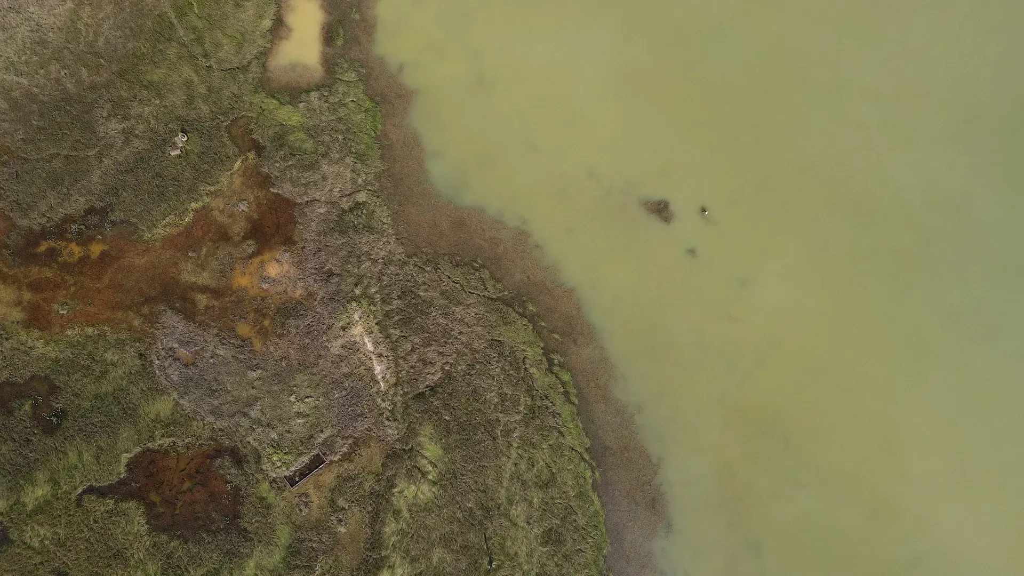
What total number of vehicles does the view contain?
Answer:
0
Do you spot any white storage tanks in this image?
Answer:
No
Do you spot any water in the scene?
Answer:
Yes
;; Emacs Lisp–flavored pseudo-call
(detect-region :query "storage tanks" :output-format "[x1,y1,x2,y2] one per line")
[286,452,326,490]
